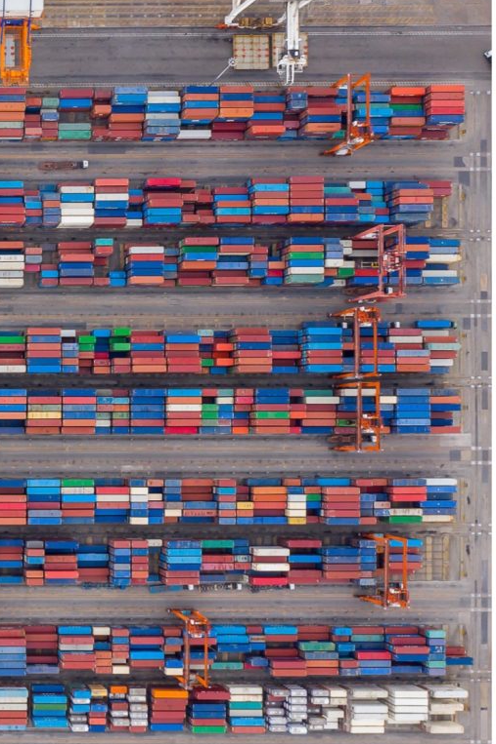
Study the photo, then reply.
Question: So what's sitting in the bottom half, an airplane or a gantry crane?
gantry crane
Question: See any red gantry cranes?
Yes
